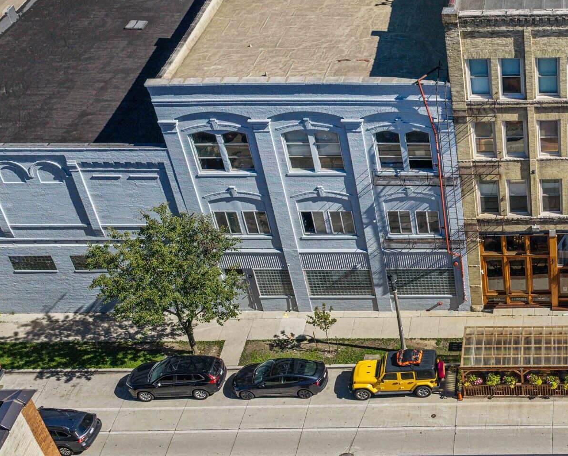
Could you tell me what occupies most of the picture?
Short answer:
buildings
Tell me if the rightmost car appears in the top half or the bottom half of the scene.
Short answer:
bottom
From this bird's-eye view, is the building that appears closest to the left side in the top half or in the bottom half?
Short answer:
bottom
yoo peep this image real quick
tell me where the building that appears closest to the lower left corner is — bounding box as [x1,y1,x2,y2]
[0,401,54,456]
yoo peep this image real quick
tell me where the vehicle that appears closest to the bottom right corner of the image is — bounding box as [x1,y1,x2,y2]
[348,350,446,400]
